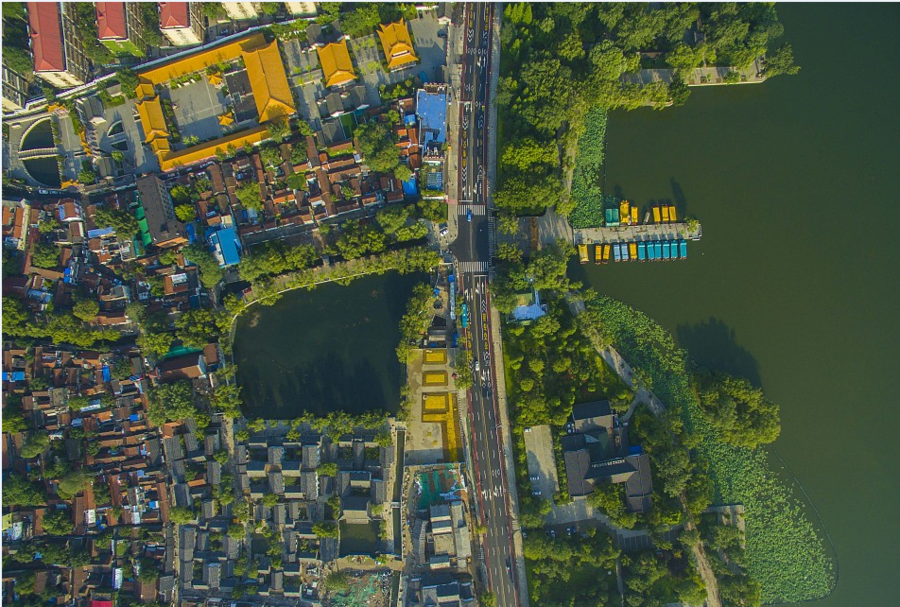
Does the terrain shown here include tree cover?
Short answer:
Yes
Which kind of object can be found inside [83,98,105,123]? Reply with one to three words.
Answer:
house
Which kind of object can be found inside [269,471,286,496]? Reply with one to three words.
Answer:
house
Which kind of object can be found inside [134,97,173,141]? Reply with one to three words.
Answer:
building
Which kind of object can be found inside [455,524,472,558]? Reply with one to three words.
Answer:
shed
